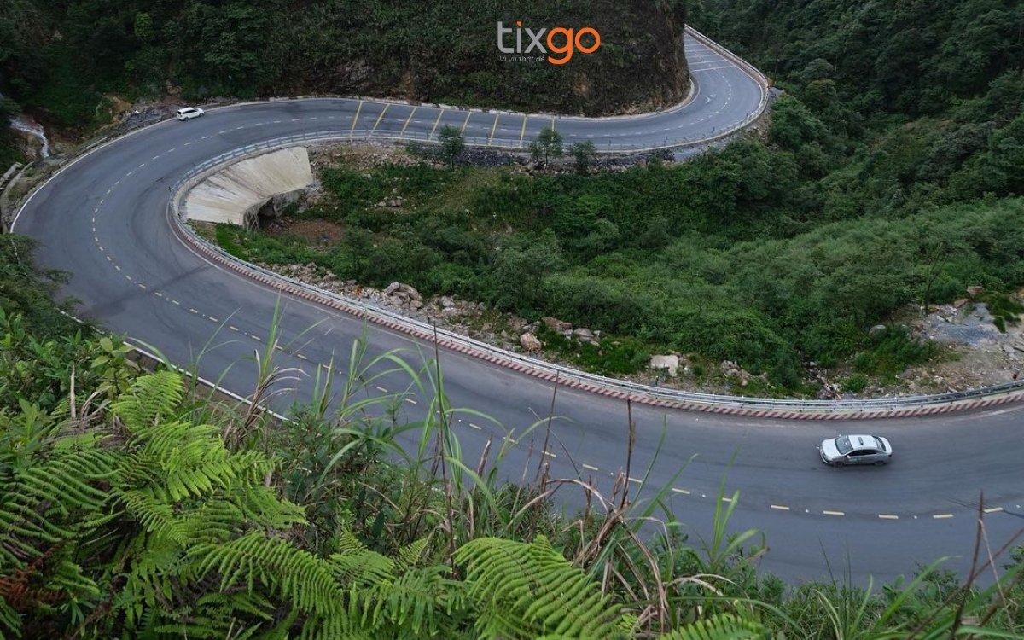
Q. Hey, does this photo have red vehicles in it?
No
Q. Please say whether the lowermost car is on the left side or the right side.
right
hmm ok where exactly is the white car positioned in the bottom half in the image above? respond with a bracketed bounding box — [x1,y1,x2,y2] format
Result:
[818,434,894,467]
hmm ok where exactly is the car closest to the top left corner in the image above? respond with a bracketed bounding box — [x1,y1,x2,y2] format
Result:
[172,106,205,121]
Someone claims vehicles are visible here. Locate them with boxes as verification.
[818,434,894,467]
[172,106,205,121]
